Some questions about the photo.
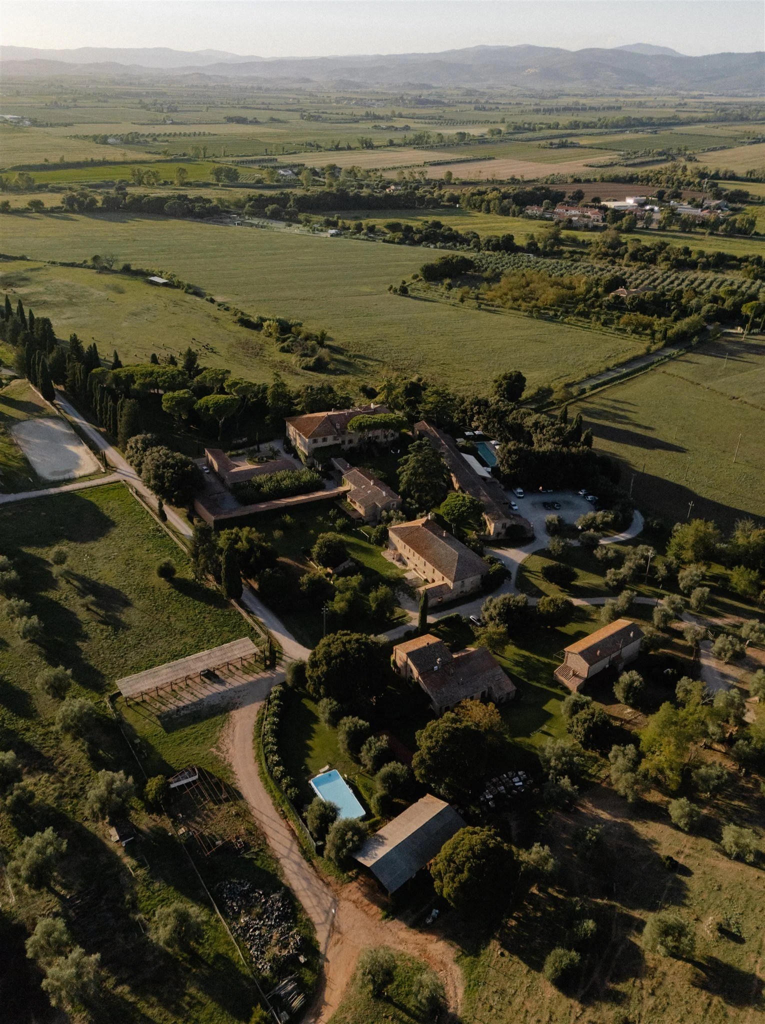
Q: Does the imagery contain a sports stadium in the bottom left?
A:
No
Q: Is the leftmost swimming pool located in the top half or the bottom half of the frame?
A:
bottom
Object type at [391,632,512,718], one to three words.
house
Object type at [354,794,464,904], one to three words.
barn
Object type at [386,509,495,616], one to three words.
house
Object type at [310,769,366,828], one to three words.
swimming pool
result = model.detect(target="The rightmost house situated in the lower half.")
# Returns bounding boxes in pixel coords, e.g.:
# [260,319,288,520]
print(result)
[563,617,647,686]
